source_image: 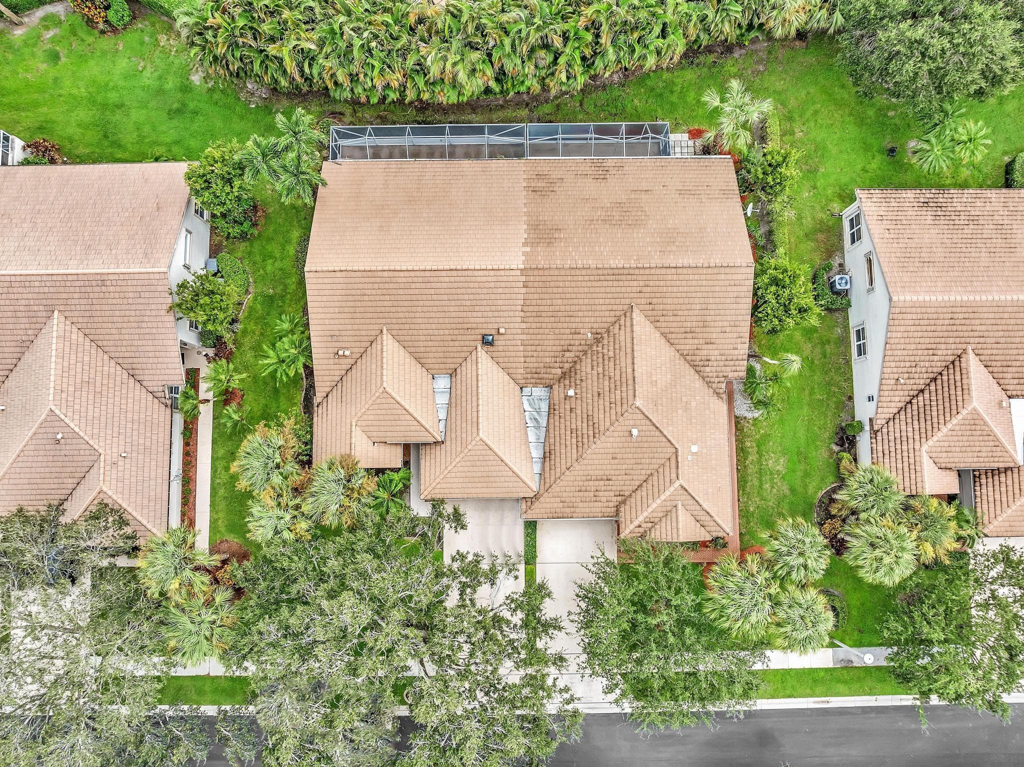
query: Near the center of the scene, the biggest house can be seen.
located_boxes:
[303,157,757,542]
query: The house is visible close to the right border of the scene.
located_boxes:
[841,183,1024,526]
